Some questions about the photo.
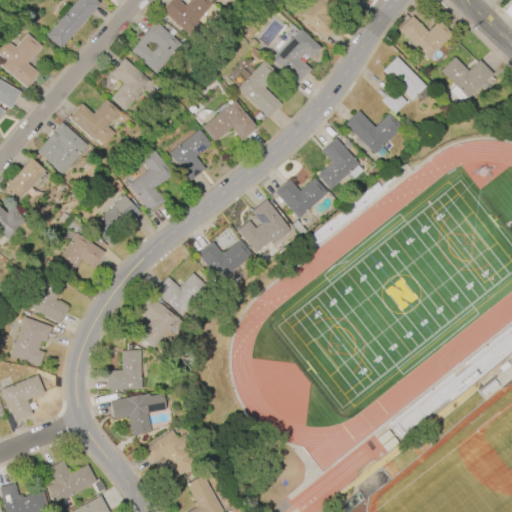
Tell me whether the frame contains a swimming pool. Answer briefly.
Yes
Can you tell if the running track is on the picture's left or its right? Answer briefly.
right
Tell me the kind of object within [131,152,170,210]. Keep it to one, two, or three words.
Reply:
house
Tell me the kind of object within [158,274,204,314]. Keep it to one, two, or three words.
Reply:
house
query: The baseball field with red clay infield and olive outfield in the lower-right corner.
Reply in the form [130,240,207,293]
[371,389,512,512]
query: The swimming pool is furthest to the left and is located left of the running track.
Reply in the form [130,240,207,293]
[150,412,170,424]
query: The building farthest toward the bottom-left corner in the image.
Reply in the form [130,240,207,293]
[2,484,46,512]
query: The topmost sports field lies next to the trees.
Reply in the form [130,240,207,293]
[266,168,512,419]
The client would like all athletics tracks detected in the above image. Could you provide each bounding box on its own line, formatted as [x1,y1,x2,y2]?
[226,135,512,472]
